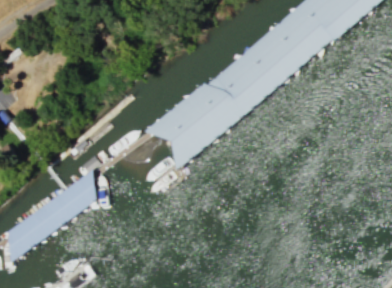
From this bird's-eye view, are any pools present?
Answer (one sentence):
No, the scene contains no pool.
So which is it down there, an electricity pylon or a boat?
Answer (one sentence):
Visible in the photo is a boat.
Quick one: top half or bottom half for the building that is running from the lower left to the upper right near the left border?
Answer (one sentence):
The bottom half of the photo is where the building that is running from the lower left to the upper right near the left border is.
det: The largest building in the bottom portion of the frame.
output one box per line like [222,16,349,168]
[8,171,97,263]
